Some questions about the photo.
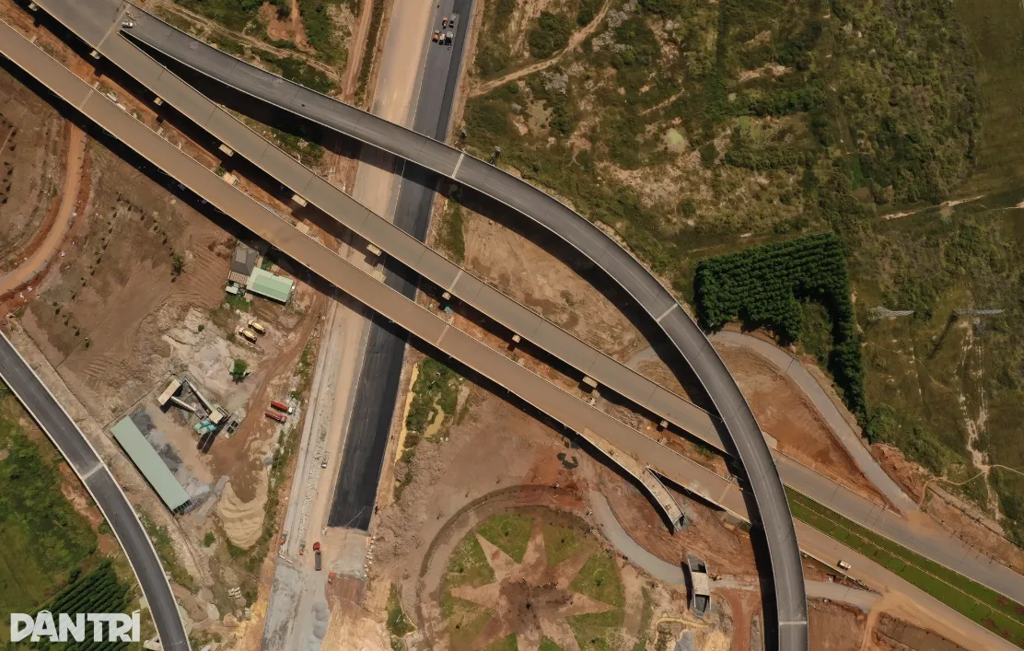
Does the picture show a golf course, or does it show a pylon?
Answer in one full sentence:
There is a pylon in the scene.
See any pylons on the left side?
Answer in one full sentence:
No, no pylon can be made out on the left side.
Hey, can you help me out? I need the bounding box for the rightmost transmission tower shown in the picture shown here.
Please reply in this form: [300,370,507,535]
[949,307,1007,319]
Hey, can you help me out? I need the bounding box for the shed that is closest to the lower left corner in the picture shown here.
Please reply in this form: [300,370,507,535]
[111,414,197,513]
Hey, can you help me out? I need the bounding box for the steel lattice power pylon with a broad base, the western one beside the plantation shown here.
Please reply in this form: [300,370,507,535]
[863,302,915,326]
